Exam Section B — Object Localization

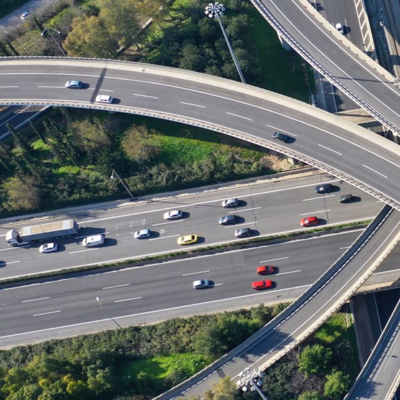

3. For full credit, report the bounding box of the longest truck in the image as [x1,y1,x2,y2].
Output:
[1,220,77,248]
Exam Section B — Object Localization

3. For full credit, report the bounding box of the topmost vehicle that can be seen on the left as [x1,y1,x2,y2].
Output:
[18,8,33,22]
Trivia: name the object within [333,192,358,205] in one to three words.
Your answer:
vehicle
